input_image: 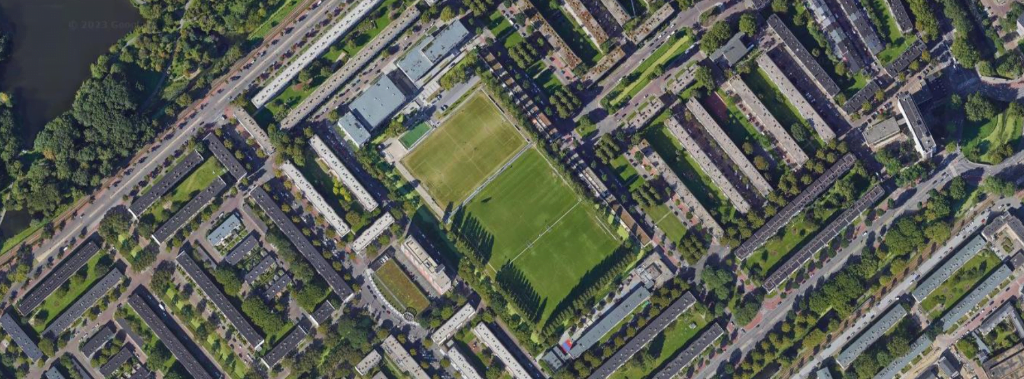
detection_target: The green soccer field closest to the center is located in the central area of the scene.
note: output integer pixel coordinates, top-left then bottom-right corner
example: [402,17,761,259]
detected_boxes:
[453,147,581,280]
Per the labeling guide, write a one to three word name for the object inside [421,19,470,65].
building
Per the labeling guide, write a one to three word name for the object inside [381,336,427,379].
building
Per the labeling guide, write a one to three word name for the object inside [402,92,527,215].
soccer field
